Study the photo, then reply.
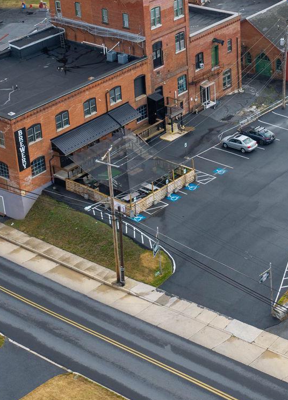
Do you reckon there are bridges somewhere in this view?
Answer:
No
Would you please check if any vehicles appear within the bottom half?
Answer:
No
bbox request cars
[221,133,259,151]
[239,122,276,142]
